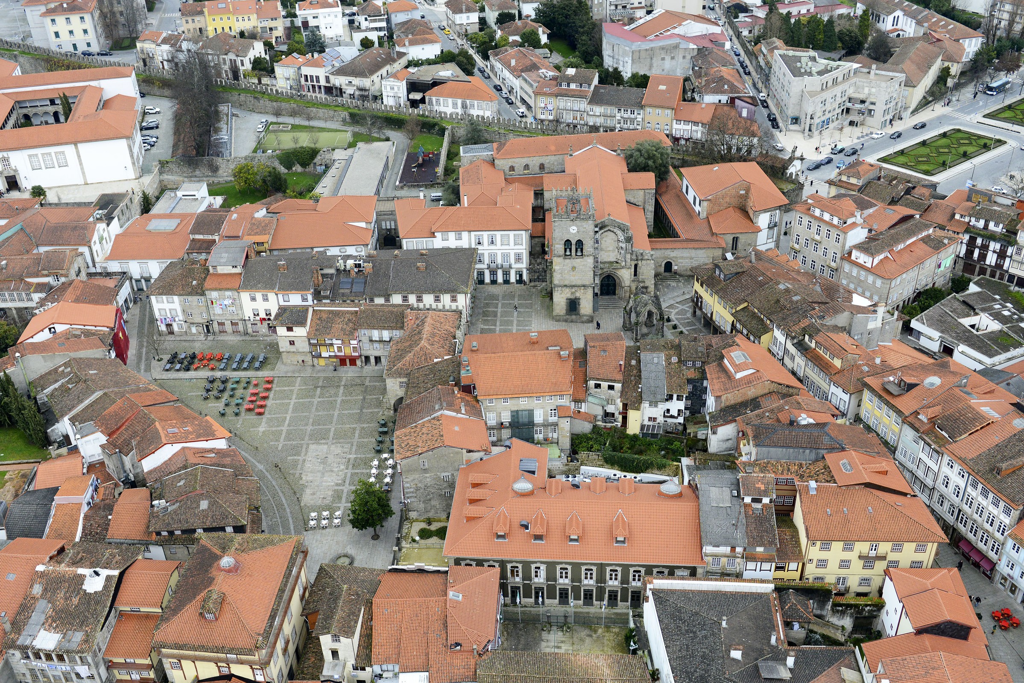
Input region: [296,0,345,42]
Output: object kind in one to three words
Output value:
building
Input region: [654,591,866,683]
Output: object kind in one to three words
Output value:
house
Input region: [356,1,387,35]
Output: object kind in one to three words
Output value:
house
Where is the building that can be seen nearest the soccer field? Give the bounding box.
[312,142,394,208]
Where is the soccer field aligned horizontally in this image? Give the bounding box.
[261,132,347,149]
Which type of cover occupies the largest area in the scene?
buildings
